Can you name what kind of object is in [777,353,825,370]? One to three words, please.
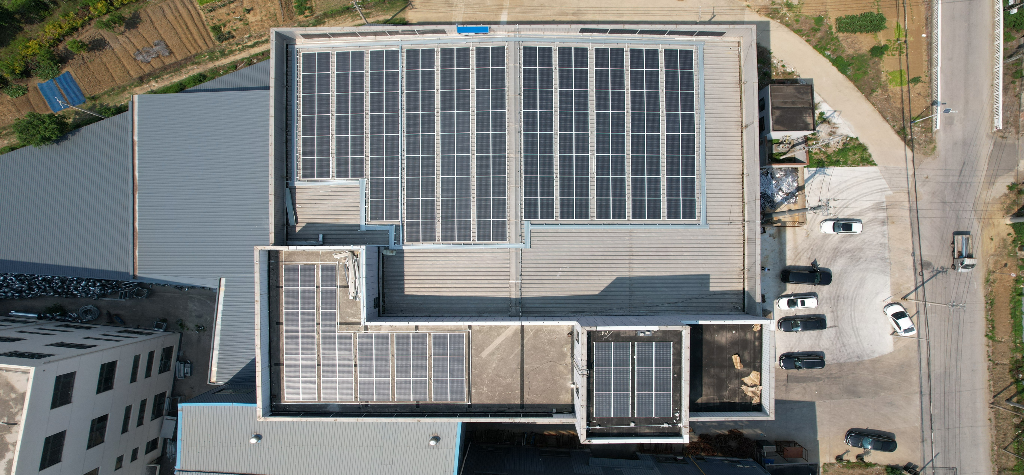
car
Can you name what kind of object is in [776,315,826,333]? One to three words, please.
car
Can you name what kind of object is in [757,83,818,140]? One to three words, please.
house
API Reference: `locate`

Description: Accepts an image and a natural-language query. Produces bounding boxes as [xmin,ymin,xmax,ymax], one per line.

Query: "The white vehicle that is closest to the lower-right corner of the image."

[882,303,918,338]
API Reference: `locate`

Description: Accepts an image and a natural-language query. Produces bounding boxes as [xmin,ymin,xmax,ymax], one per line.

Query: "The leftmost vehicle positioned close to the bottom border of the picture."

[844,432,896,453]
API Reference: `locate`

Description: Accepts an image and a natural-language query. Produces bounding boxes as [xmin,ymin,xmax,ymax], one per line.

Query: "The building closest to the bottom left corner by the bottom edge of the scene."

[0,323,181,475]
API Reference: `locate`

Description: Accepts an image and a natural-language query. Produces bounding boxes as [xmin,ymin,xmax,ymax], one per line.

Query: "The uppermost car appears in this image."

[817,219,863,235]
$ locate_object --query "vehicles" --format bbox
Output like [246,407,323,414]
[882,303,918,338]
[949,231,981,271]
[777,353,825,370]
[776,315,826,333]
[780,260,832,284]
[844,432,896,453]
[817,219,863,235]
[775,295,819,311]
